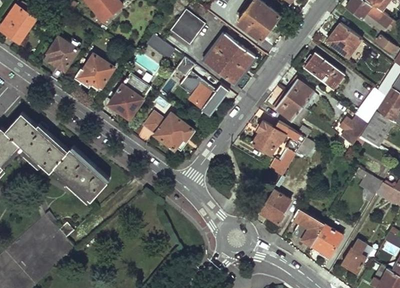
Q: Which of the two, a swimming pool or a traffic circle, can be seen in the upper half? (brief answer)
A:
swimming pool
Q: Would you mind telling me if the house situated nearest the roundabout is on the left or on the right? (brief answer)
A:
right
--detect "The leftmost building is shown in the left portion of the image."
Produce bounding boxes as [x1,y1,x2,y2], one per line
[0,3,36,46]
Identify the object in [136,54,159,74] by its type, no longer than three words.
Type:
swimming pool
